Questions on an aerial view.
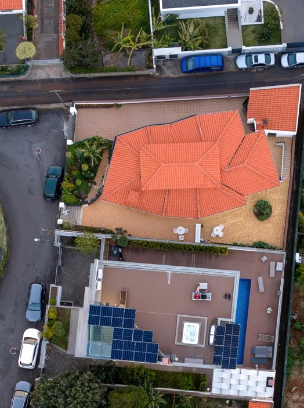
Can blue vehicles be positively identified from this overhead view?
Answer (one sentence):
Yes, the photo shows a blue vehicle.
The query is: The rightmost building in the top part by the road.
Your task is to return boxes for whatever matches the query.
[245,85,301,141]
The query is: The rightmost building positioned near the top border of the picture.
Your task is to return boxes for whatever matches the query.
[160,0,263,51]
